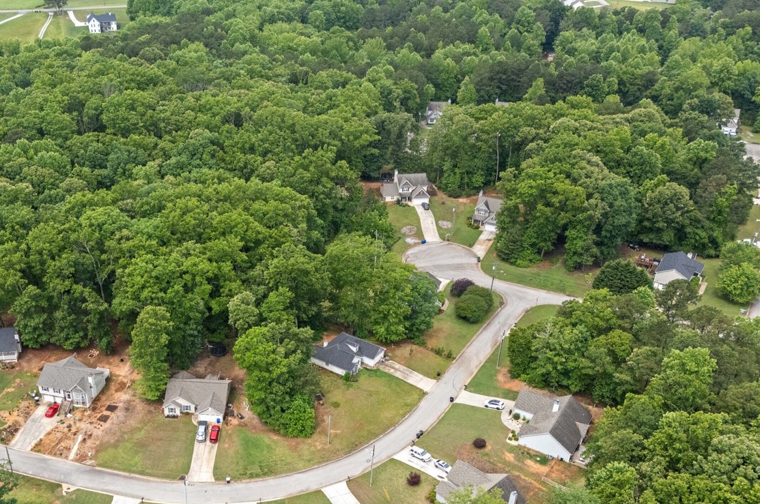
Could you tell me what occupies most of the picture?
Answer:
trees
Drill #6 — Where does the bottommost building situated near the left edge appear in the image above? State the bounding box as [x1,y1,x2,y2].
[35,351,111,414]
